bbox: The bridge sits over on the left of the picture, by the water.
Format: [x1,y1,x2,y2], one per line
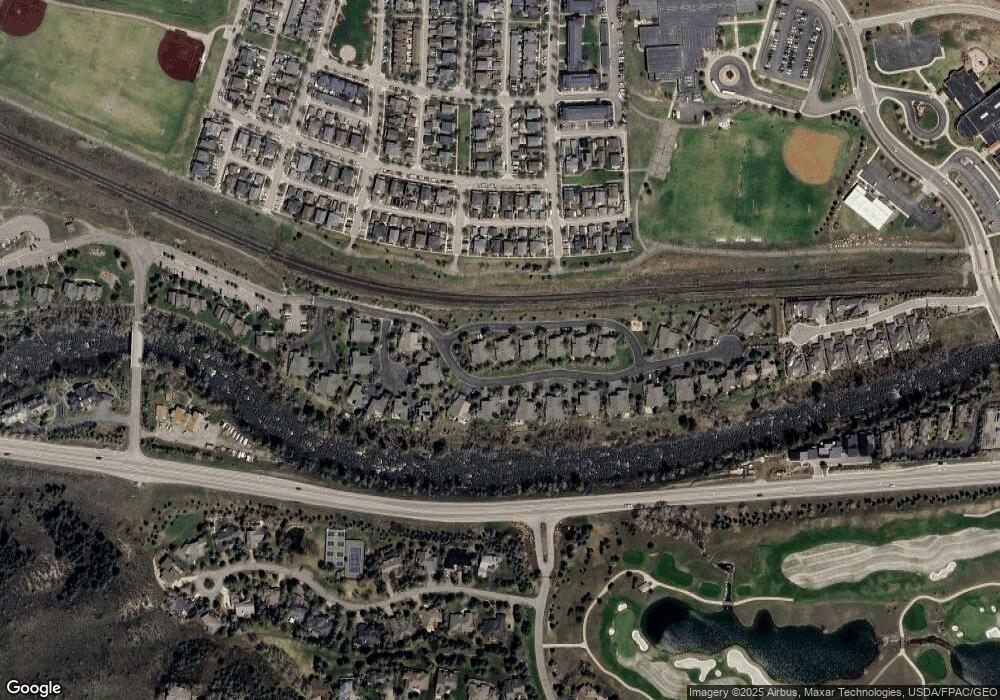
[131,326,144,370]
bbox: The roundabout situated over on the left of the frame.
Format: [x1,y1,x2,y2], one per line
[194,567,224,597]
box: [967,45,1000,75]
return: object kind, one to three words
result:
playground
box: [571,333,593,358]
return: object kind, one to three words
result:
house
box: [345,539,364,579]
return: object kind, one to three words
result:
tennis court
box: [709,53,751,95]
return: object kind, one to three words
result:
roundabout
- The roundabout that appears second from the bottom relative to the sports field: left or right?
to the right of it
